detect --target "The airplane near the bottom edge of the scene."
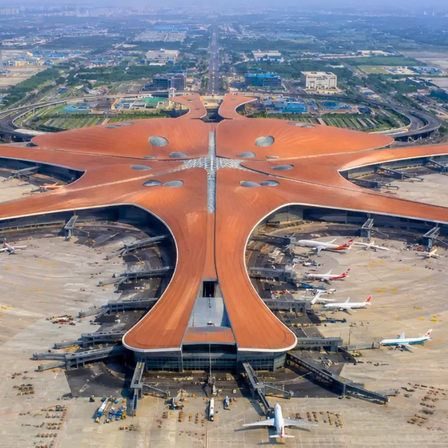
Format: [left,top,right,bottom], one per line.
[244,399,317,440]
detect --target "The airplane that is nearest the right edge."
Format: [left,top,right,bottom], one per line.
[418,244,448,262]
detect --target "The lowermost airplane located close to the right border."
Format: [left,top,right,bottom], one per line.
[381,328,431,352]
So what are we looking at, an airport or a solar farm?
airport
